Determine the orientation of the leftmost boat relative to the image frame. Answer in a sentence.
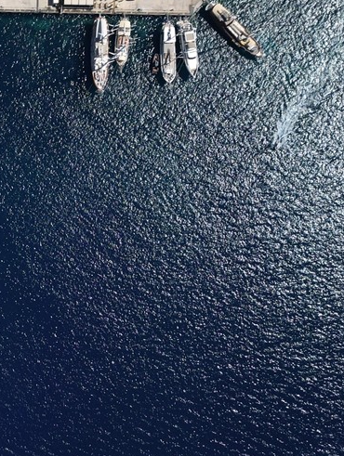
The leftmost boat is oriented from top to bottom.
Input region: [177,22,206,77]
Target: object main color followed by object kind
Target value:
white boat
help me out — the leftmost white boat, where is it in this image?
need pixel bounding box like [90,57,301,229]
[93,17,118,90]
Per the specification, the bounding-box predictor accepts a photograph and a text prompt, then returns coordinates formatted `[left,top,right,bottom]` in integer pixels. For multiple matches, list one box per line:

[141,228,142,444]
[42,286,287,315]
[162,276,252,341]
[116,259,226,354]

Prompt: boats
[177,22,206,77]
[207,0,271,57]
[152,52,161,74]
[115,20,137,73]
[93,17,118,90]
[160,23,189,83]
